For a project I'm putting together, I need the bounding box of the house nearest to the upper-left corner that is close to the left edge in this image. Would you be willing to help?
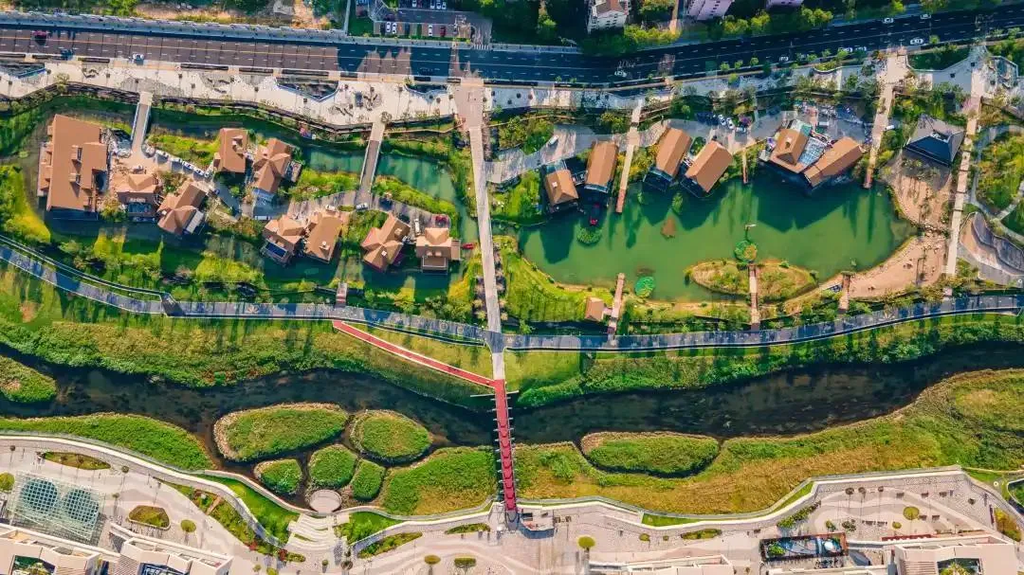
[38,114,115,220]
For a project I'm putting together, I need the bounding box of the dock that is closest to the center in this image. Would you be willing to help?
[608,274,625,335]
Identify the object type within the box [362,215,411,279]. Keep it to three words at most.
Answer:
house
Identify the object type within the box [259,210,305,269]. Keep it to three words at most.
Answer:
house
